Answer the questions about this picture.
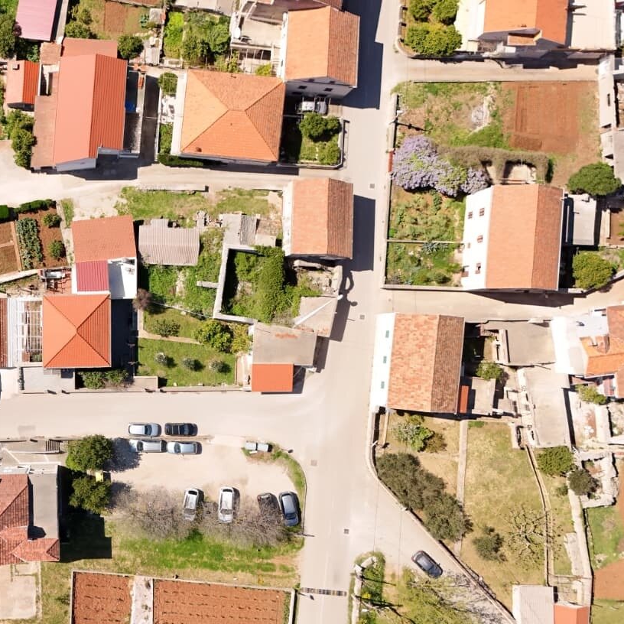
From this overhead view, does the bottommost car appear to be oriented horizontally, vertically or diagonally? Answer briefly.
diagonally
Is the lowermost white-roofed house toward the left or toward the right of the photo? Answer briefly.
right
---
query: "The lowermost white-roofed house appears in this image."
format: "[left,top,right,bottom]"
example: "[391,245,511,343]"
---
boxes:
[504,579,555,624]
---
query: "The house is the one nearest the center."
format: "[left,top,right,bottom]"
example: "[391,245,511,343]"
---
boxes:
[289,296,337,337]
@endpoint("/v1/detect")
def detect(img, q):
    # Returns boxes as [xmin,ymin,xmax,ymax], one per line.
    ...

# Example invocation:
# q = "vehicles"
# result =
[129,439,165,454]
[182,488,201,521]
[128,422,160,439]
[299,98,330,115]
[163,422,196,439]
[410,549,443,580]
[258,489,279,524]
[277,490,299,526]
[218,487,234,524]
[166,440,200,455]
